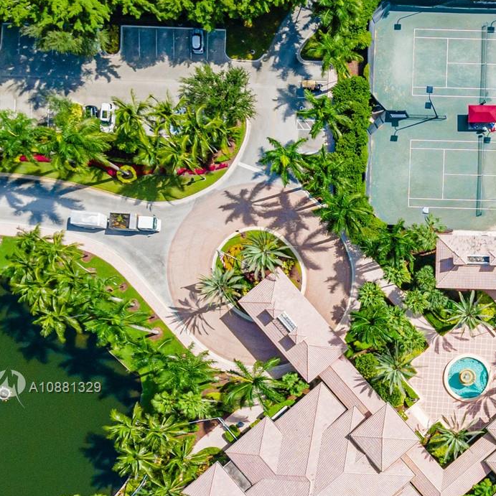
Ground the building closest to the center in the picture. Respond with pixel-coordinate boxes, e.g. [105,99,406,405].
[238,272,348,383]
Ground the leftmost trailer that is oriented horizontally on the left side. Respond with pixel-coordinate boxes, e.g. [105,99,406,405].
[65,211,105,229]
